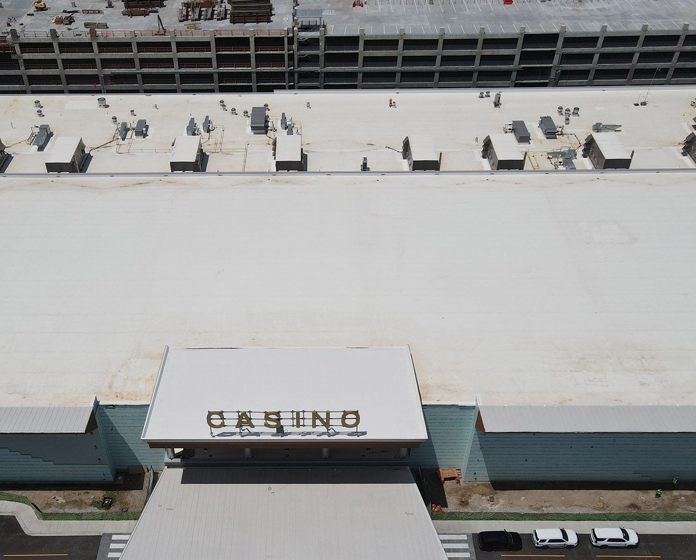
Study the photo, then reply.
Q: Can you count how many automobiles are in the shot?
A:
3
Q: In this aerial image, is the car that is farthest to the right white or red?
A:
white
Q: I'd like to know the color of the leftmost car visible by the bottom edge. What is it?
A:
black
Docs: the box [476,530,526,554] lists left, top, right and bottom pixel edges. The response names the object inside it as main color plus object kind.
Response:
black car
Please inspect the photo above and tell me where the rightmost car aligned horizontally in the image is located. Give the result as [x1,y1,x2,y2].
[590,527,641,552]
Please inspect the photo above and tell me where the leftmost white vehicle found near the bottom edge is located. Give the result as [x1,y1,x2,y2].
[531,528,582,552]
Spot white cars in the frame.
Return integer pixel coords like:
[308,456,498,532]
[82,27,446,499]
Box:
[590,527,641,552]
[531,528,582,552]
